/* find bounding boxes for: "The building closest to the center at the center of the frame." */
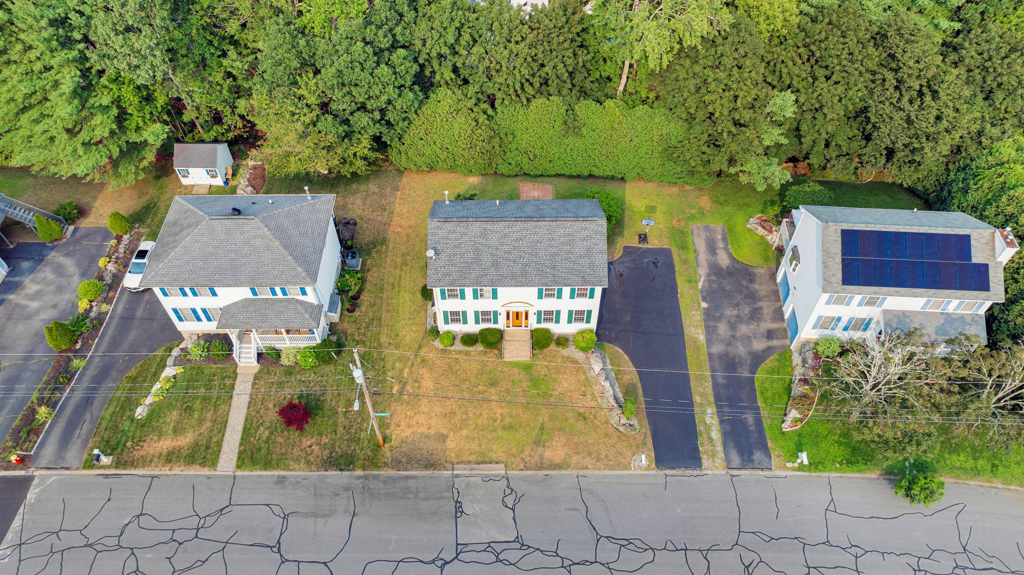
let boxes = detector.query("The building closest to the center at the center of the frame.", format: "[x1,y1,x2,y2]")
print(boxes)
[425,194,608,360]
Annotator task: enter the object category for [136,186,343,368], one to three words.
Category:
house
